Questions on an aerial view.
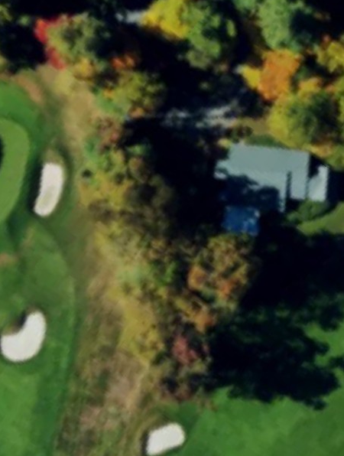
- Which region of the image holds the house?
right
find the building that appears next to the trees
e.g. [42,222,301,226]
[219,140,330,236]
